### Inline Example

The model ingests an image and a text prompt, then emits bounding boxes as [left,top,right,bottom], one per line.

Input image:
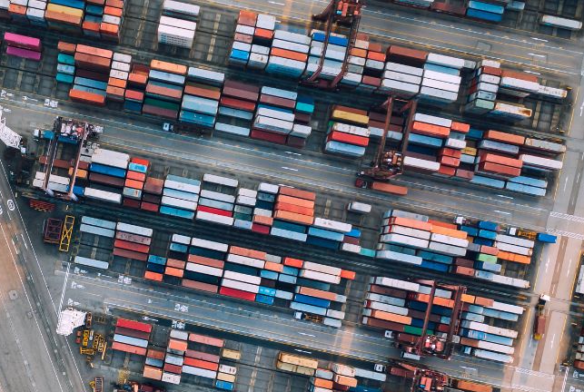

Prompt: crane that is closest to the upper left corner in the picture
[39,114,97,202]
